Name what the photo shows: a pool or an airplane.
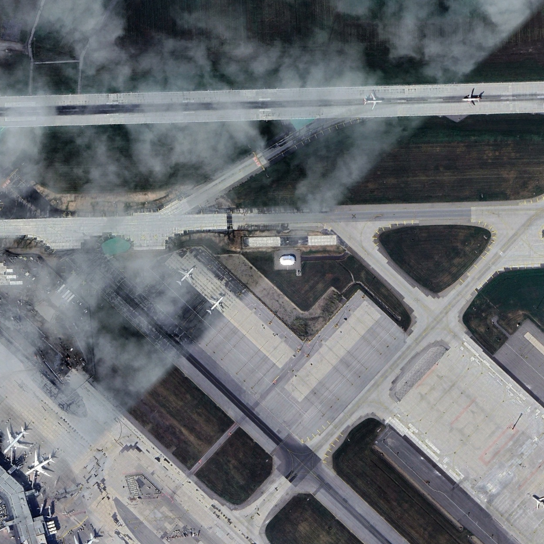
airplane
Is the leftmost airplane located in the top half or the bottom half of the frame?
bottom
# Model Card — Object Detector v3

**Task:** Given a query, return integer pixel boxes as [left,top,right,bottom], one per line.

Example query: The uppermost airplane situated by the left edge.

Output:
[4,424,30,454]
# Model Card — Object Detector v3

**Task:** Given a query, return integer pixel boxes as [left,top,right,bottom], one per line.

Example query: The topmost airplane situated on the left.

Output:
[176,267,195,285]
